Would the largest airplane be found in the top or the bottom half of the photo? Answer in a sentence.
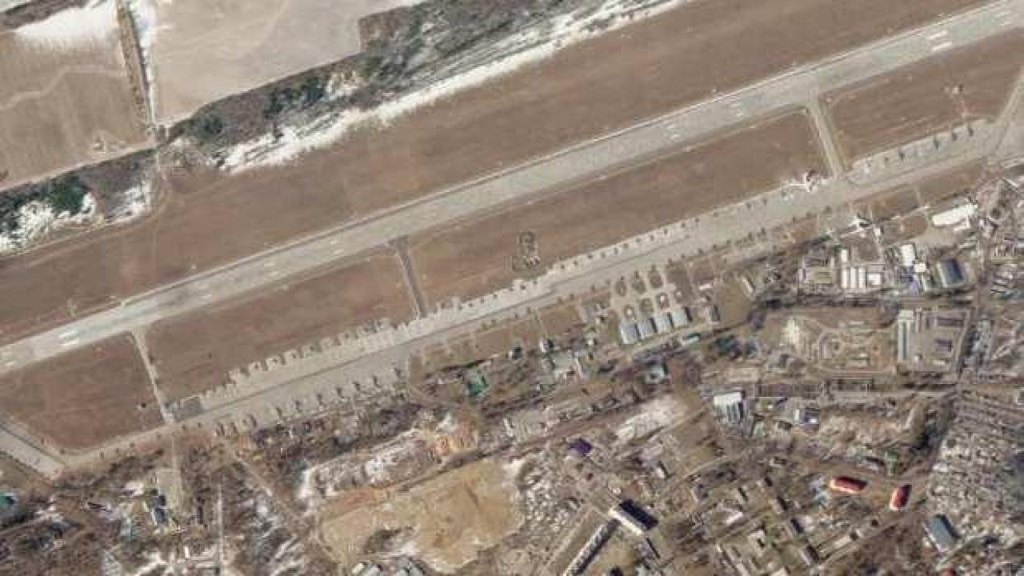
You can find the largest airplane in the top half.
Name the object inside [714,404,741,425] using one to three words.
shed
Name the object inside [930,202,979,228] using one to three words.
hangar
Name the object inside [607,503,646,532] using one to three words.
building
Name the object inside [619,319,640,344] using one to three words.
hangar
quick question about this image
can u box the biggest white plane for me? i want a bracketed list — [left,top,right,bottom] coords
[792,170,814,195]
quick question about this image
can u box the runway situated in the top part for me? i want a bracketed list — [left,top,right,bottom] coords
[0,0,1024,373]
